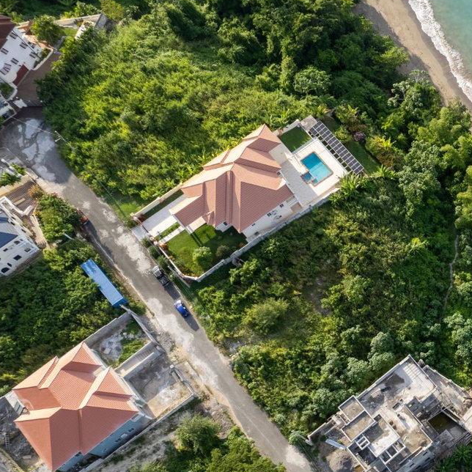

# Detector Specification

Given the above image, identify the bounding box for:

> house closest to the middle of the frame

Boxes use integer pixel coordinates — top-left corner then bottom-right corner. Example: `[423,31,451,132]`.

[170,124,294,239]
